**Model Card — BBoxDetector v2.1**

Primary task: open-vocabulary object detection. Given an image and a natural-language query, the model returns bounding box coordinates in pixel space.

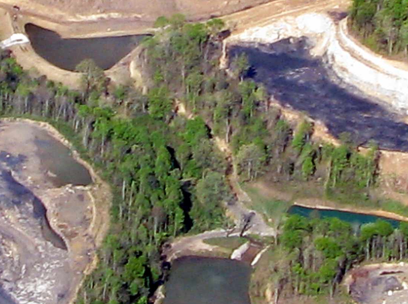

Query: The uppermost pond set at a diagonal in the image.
[35,134,91,186]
